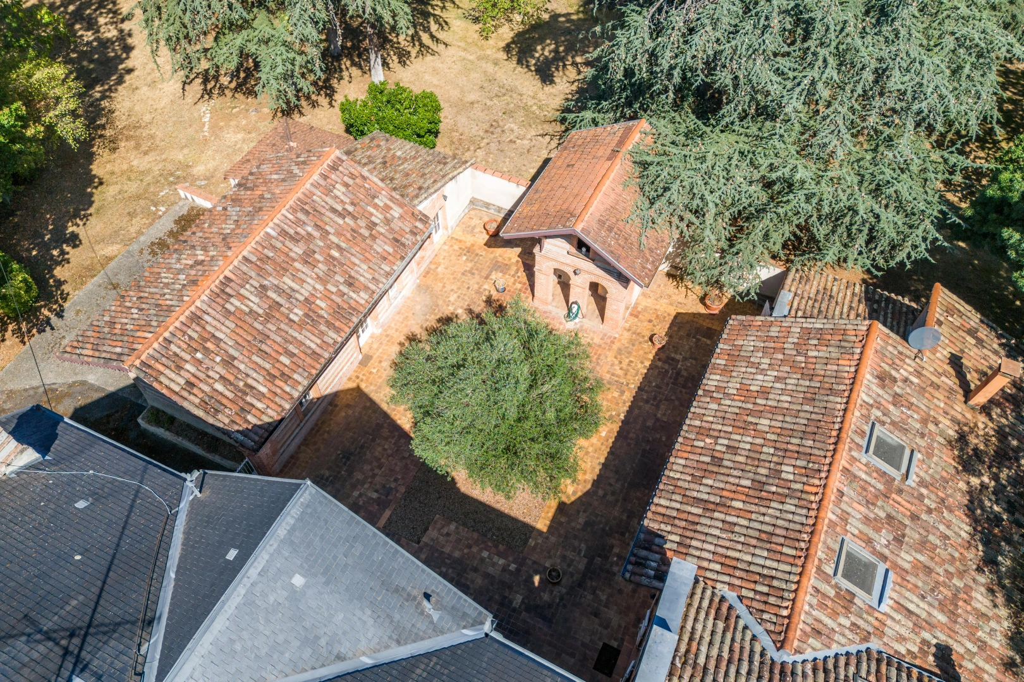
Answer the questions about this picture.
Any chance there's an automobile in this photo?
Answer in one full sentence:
No, there's no automobile here.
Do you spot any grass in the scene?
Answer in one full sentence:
Yes, there is grass in the image.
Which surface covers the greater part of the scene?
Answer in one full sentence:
For the most part, this view shows buildings.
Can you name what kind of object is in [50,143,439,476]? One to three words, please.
shed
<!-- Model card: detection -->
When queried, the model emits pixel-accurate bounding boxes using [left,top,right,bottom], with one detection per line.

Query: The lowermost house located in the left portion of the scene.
[0,403,589,682]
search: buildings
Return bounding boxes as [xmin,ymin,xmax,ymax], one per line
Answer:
[50,143,439,476]
[499,114,702,337]
[0,403,589,682]
[617,280,1024,682]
